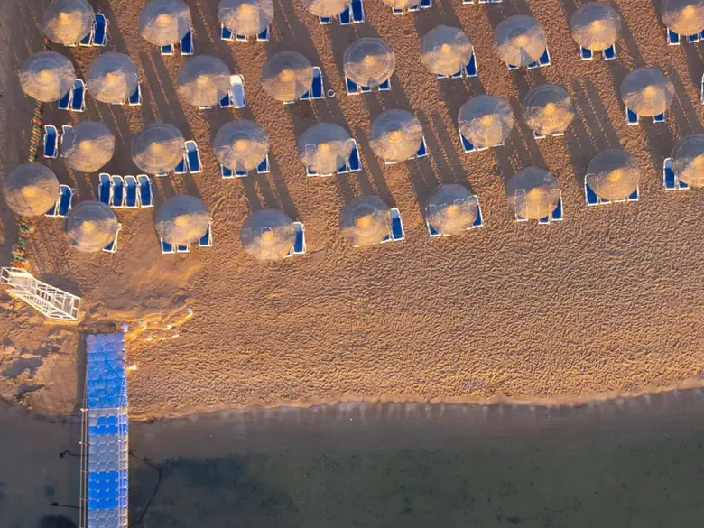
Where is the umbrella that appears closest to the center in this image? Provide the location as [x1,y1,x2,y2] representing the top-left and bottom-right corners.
[338,196,394,248]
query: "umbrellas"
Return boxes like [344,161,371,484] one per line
[2,162,60,217]
[297,123,354,177]
[239,208,296,261]
[86,53,140,102]
[217,0,273,36]
[660,0,704,35]
[492,16,548,67]
[139,0,193,46]
[155,193,210,245]
[342,37,397,87]
[425,185,479,236]
[131,123,186,175]
[301,0,351,17]
[621,68,676,118]
[65,200,121,254]
[419,26,473,76]
[457,95,514,148]
[176,55,232,106]
[587,150,641,201]
[259,53,314,102]
[212,120,269,173]
[570,3,623,50]
[18,52,76,103]
[338,196,394,248]
[42,0,97,43]
[505,167,561,219]
[521,86,574,134]
[669,134,704,185]
[61,122,116,173]
[369,111,424,161]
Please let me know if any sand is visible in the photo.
Yes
